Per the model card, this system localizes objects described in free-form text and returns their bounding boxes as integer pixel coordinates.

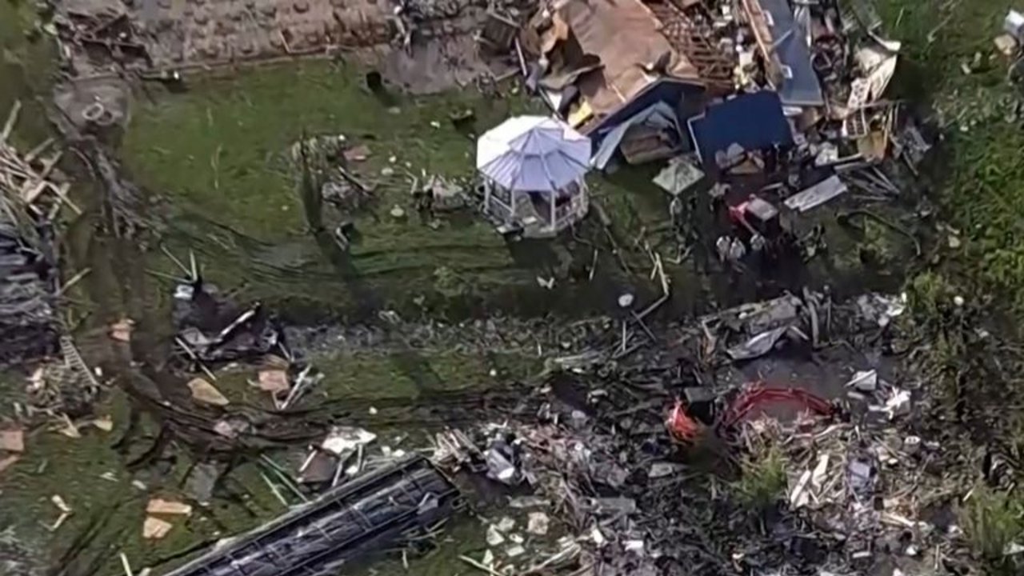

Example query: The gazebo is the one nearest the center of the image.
[476,115,594,244]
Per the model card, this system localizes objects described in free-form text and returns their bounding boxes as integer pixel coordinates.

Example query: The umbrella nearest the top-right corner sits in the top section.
[652,157,705,197]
